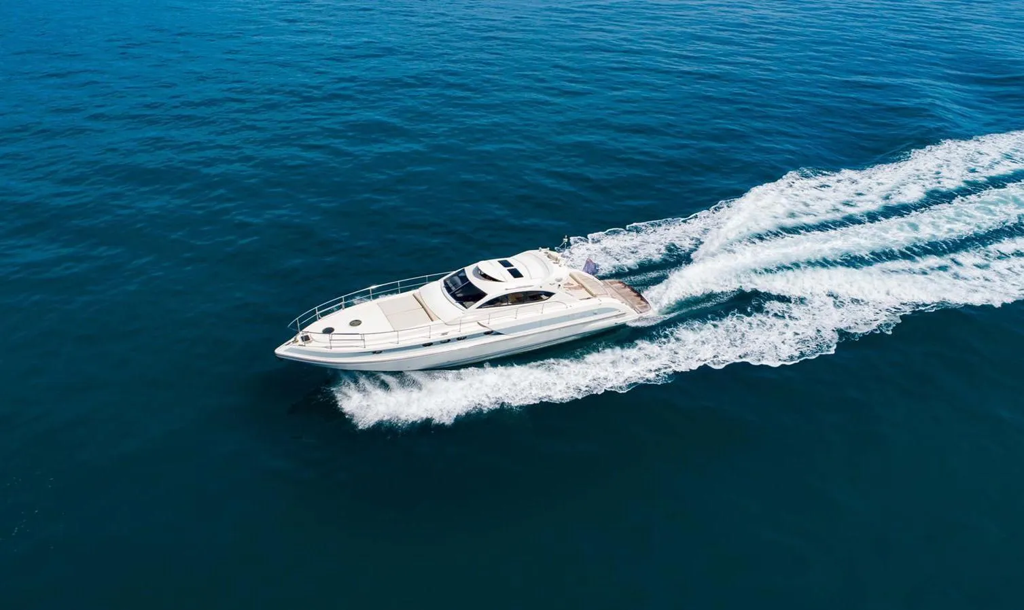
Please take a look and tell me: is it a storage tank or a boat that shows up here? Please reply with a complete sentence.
Looking from above, you can make out a boat.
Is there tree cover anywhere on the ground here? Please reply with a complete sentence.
No, there is no tree cover in the image.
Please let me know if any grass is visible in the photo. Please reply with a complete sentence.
No, the picture contains no grass.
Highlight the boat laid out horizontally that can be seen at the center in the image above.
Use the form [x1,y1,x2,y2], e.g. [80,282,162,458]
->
[272,233,650,372]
